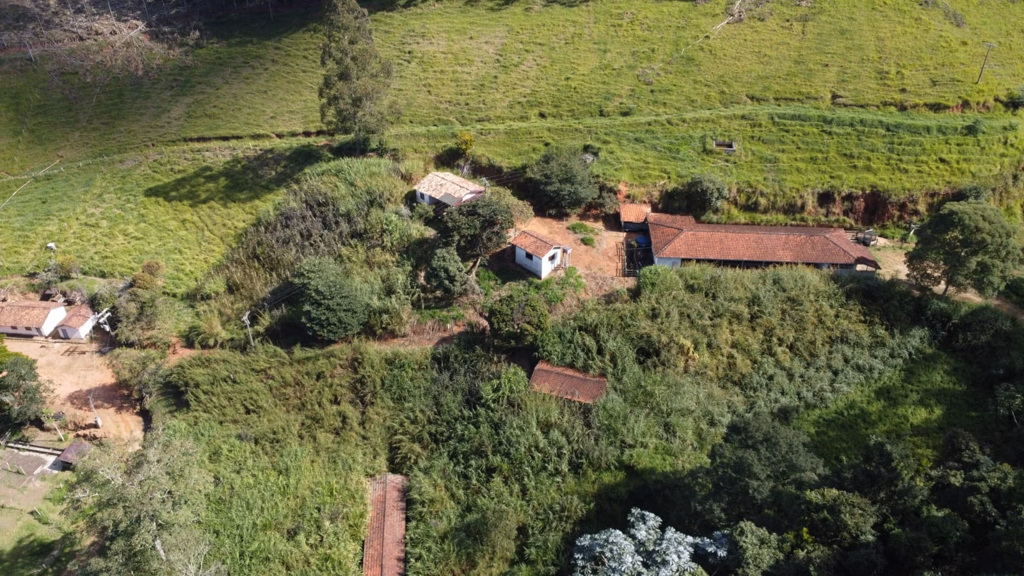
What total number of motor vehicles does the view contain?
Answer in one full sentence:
The count of motor vehicles is 0.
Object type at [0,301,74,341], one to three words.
house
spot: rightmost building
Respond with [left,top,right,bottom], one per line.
[648,209,870,281]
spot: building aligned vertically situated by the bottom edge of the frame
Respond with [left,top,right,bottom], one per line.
[358,470,406,576]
